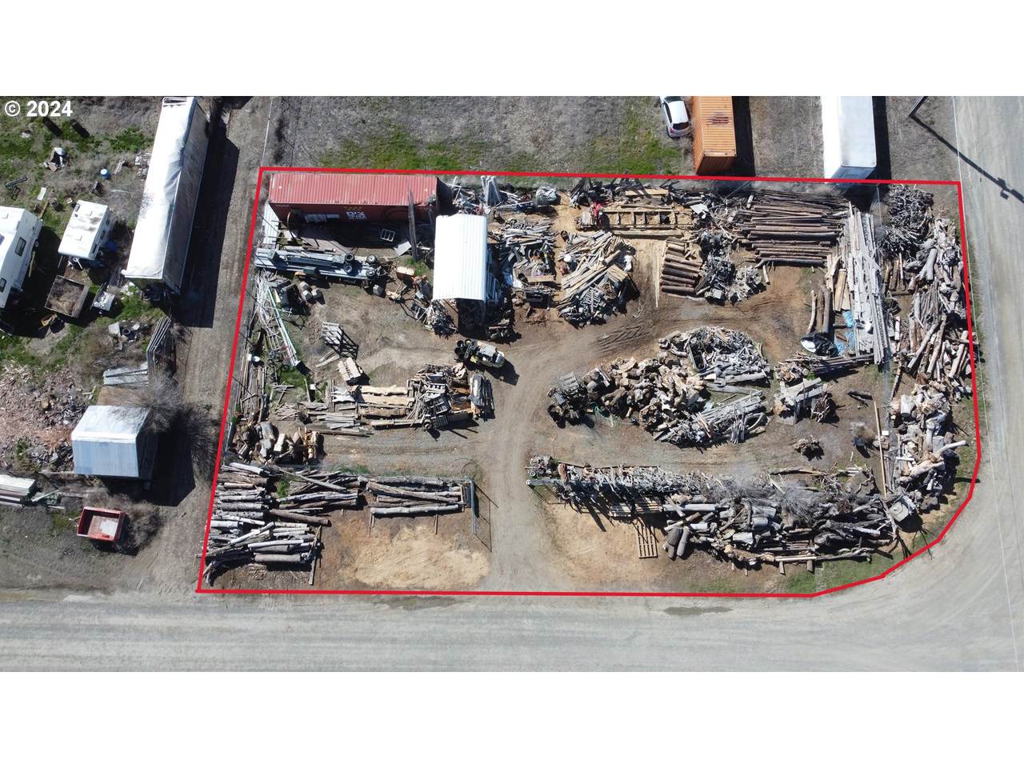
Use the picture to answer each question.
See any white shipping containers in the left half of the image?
No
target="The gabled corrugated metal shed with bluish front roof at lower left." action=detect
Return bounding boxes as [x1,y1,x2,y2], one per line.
[68,402,166,482]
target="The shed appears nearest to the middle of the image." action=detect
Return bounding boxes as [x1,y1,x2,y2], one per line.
[433,214,489,313]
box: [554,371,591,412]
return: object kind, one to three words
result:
work vehicle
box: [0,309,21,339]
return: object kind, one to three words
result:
car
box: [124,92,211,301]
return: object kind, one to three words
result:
trailer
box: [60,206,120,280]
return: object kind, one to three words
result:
vehicle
